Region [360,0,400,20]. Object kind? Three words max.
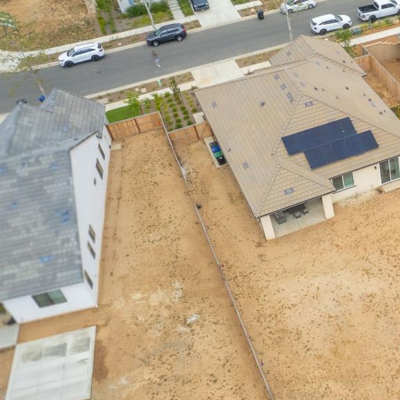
vehicle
